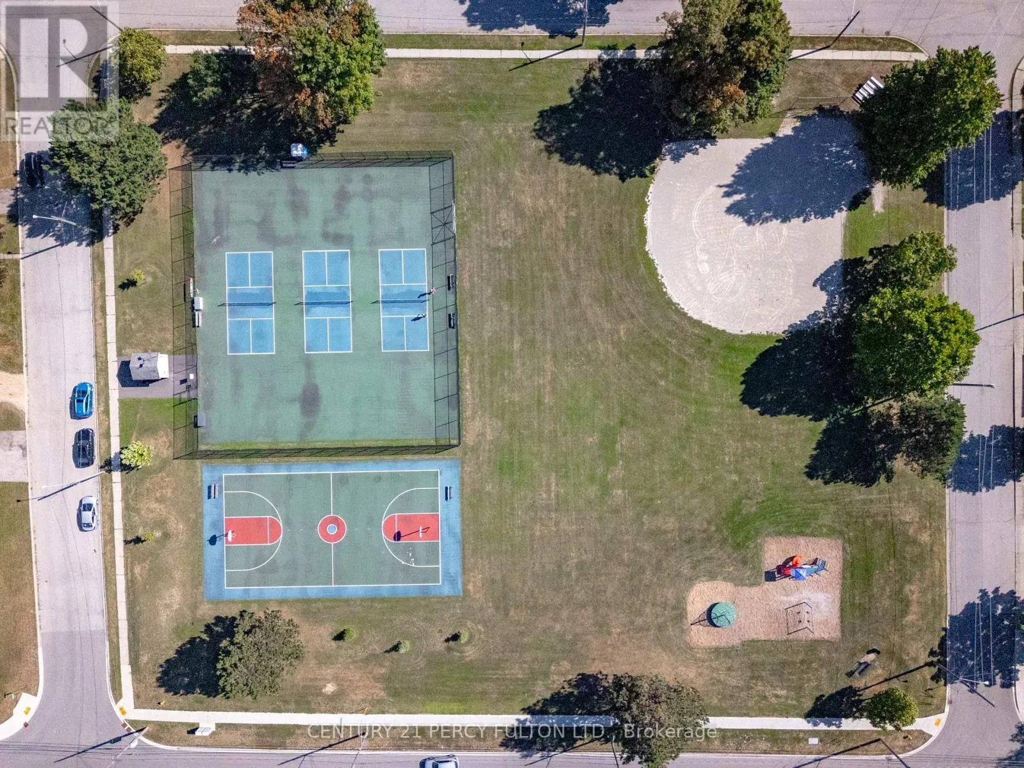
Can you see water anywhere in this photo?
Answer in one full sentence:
No, no water is visible.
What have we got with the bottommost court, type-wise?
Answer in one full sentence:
The bottommost court in the image is a basketball court.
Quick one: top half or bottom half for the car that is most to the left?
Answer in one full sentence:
You can find the car that is most to the left in the top half.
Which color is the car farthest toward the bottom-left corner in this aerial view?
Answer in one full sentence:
The color of the car farthest toward the bottom-left corner is white.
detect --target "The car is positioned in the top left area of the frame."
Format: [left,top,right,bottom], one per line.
[20,149,43,187]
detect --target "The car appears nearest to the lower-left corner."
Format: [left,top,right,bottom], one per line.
[79,496,99,532]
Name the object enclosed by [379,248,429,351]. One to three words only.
sports court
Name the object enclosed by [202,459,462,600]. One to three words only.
basketball court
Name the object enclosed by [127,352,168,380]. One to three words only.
shed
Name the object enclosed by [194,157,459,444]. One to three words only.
tennis court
